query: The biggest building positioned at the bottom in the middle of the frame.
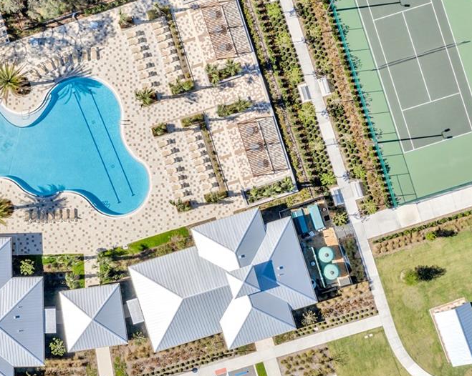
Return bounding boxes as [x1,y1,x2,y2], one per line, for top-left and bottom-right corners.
[131,208,319,352]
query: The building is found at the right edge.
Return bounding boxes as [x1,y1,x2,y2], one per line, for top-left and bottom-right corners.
[433,301,472,367]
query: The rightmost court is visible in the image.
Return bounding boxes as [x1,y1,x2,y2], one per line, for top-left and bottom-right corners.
[357,0,472,153]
